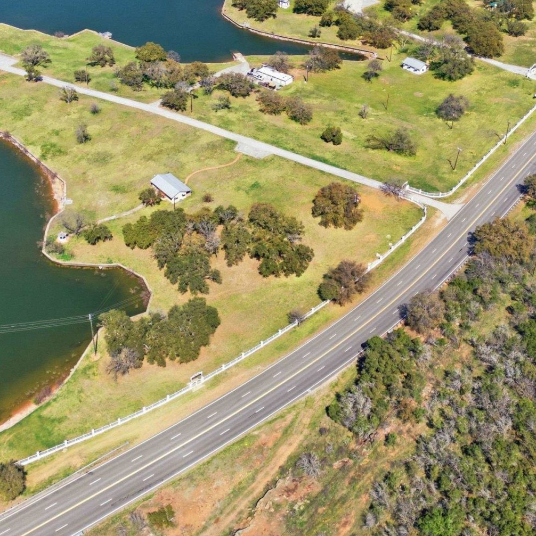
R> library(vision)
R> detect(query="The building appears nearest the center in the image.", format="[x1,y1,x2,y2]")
[151,175,192,206]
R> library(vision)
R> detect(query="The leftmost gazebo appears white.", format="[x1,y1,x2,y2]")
[54,229,69,243]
